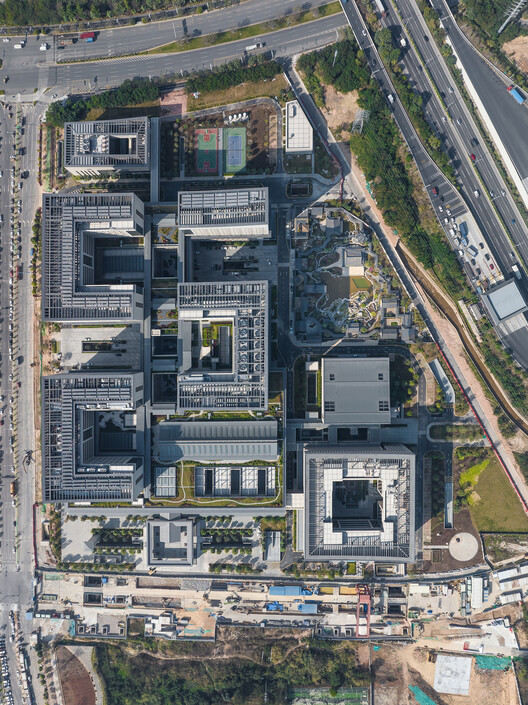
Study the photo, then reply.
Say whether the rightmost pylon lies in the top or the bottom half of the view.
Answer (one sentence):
You can find the rightmost pylon in the top half.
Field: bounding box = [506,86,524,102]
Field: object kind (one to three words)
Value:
vehicle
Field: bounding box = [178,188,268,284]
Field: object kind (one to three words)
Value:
building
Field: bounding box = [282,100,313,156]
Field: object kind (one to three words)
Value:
building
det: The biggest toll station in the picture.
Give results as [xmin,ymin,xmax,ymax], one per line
[481,280,527,326]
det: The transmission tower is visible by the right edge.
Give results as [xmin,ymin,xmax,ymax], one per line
[495,0,524,31]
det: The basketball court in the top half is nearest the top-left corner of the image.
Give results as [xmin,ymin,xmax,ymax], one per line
[196,128,218,172]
